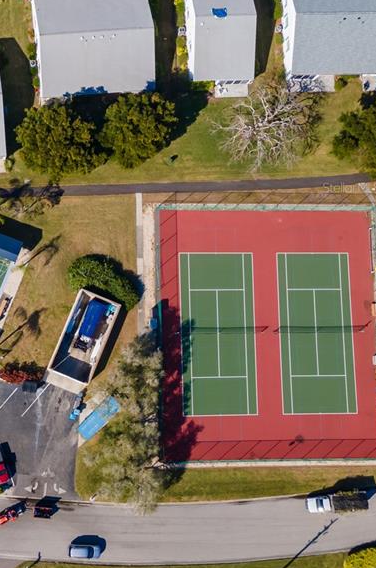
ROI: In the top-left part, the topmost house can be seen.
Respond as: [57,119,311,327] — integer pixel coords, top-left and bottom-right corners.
[31,0,155,101]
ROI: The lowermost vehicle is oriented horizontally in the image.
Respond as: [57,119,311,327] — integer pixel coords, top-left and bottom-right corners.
[69,538,104,556]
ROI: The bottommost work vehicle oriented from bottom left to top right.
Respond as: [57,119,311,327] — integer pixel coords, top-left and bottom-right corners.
[0,502,30,527]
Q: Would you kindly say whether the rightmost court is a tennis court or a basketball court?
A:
tennis court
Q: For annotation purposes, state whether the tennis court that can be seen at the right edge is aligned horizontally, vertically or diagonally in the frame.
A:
vertically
